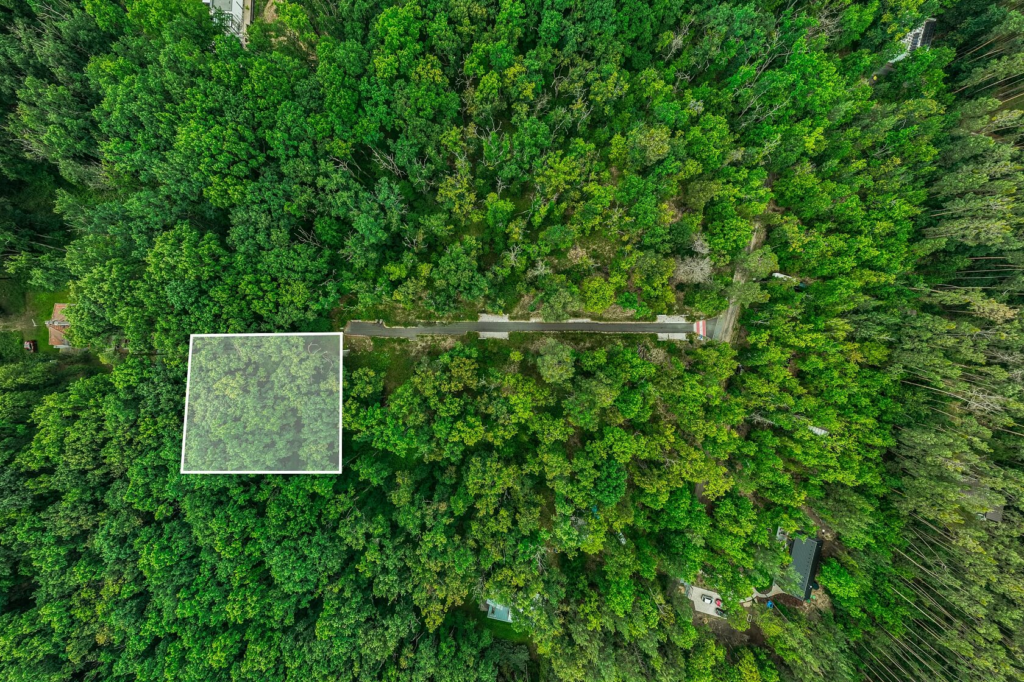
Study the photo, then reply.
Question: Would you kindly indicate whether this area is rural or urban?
rural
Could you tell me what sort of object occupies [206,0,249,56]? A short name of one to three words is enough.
house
